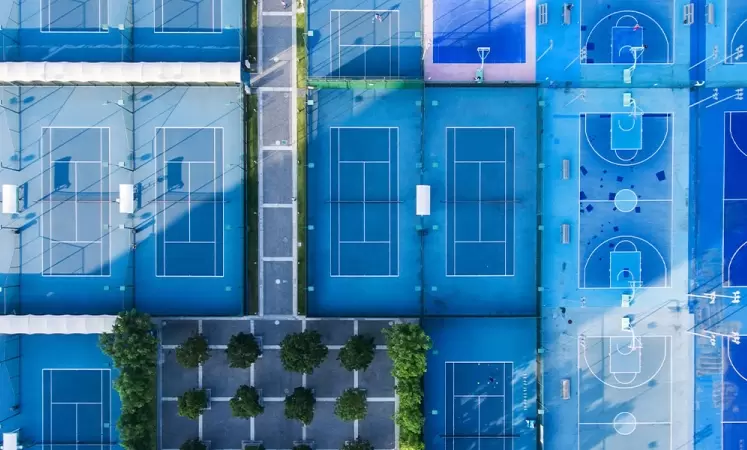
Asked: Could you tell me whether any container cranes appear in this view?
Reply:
No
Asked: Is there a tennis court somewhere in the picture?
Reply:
Yes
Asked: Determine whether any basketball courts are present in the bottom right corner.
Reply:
Yes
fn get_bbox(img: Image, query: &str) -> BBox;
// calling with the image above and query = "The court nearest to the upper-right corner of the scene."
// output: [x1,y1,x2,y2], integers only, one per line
[690,0,747,88]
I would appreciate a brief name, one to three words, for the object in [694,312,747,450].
basketball court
